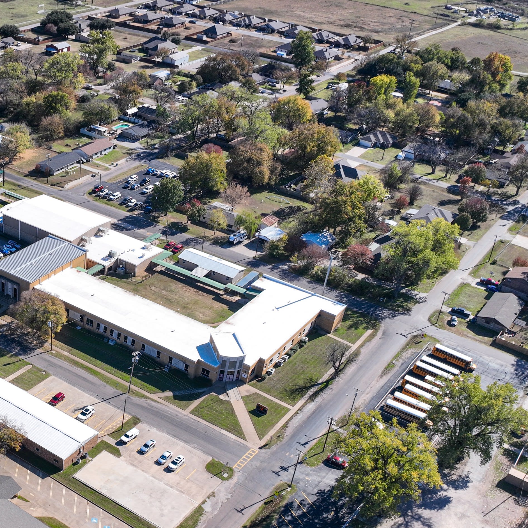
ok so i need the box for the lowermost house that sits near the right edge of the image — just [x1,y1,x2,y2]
[472,294,528,336]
